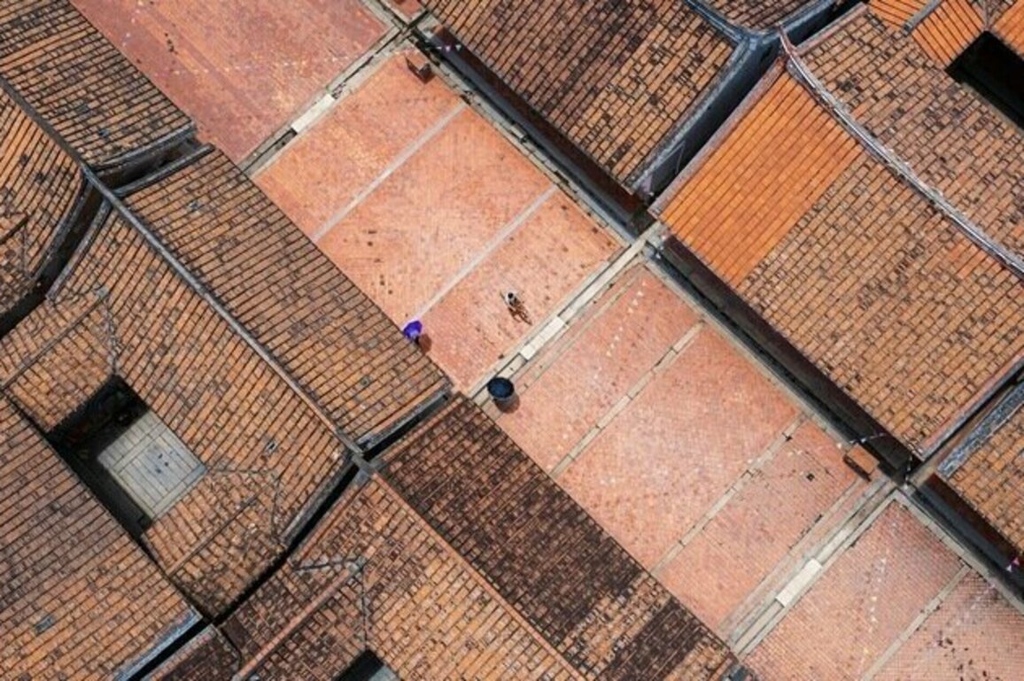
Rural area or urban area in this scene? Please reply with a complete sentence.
This place is urban.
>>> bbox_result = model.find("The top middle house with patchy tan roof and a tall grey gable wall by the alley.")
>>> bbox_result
[418,0,829,211]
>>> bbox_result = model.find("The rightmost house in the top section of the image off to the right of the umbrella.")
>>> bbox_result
[648,0,1024,466]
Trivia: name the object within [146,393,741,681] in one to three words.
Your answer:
house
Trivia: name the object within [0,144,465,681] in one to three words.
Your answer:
house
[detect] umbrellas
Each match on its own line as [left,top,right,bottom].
[404,320,422,338]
